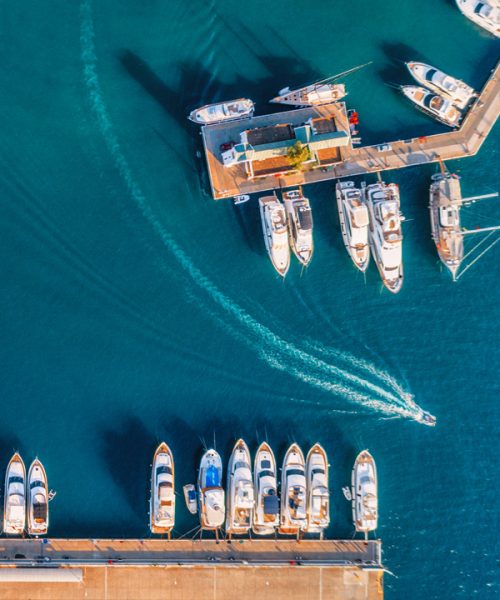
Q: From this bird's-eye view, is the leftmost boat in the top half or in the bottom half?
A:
bottom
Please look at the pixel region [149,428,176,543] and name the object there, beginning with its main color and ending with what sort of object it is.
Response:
white boat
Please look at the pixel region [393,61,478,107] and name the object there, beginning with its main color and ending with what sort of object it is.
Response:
white boat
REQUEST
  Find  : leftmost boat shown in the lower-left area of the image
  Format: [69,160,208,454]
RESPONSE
[2,439,27,541]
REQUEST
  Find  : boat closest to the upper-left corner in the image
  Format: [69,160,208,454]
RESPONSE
[188,96,254,127]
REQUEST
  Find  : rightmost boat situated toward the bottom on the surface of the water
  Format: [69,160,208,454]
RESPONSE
[420,411,436,423]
